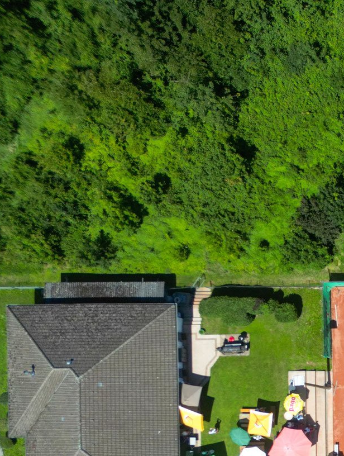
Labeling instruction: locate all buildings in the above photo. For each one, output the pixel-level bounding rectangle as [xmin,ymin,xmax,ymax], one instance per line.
[6,303,180,456]
[44,282,168,300]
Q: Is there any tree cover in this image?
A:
Yes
